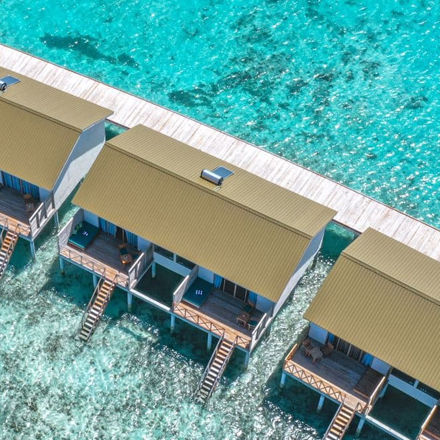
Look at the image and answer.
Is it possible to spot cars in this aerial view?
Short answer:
No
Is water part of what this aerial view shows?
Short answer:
Yes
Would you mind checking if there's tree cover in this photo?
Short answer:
No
